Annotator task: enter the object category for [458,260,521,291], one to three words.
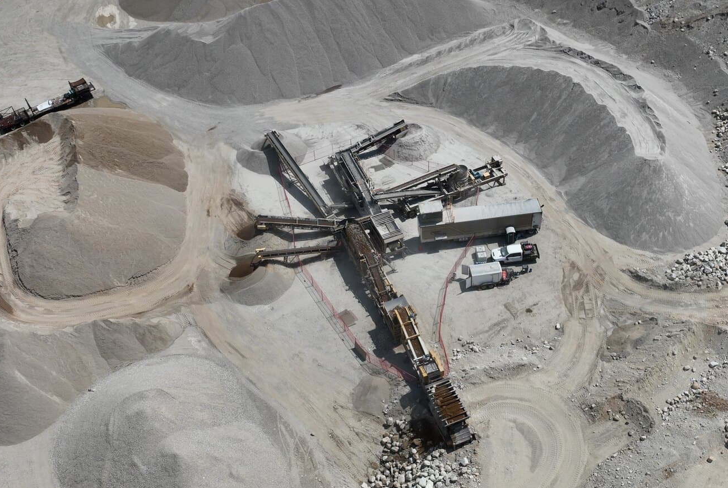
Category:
trailer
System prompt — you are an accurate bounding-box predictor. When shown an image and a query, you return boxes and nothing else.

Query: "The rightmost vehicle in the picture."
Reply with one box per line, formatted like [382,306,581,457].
[492,245,547,266]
